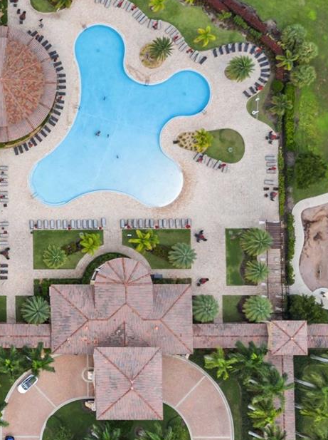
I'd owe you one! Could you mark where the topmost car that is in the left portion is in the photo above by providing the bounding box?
[18,372,38,394]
